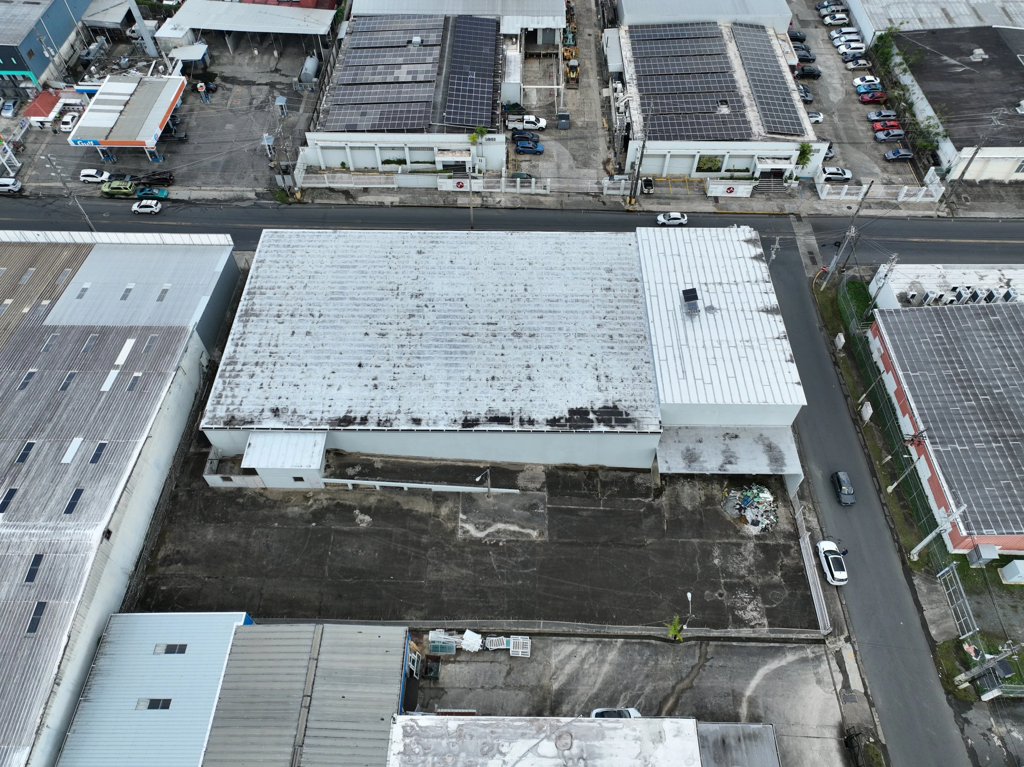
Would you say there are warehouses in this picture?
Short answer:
Yes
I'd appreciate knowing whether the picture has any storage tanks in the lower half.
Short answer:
No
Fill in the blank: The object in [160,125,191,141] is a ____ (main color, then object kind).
black car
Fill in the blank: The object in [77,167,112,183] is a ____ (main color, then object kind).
white car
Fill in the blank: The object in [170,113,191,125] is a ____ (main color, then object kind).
black vehicle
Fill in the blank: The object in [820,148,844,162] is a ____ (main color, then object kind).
gray car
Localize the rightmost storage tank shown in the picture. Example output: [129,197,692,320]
[293,49,328,87]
